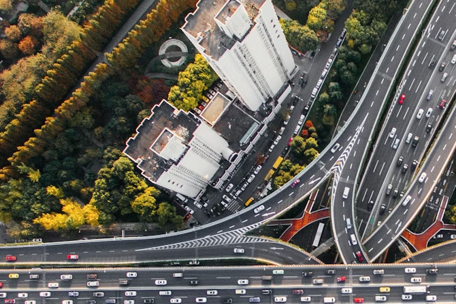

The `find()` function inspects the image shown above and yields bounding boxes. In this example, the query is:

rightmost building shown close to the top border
[180,0,295,111]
